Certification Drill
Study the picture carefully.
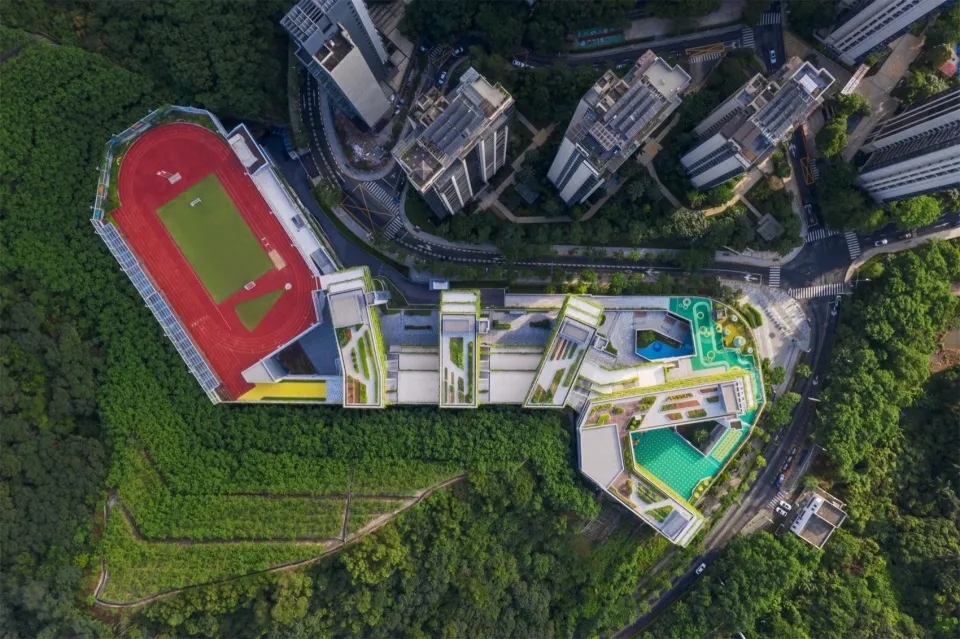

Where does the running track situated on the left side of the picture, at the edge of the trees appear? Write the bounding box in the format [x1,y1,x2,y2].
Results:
[102,113,322,402]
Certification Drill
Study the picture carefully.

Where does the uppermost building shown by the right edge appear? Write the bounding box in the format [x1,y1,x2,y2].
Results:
[813,0,953,65]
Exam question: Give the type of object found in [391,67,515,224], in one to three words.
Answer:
building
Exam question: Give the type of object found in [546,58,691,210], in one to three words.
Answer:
building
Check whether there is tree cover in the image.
Yes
